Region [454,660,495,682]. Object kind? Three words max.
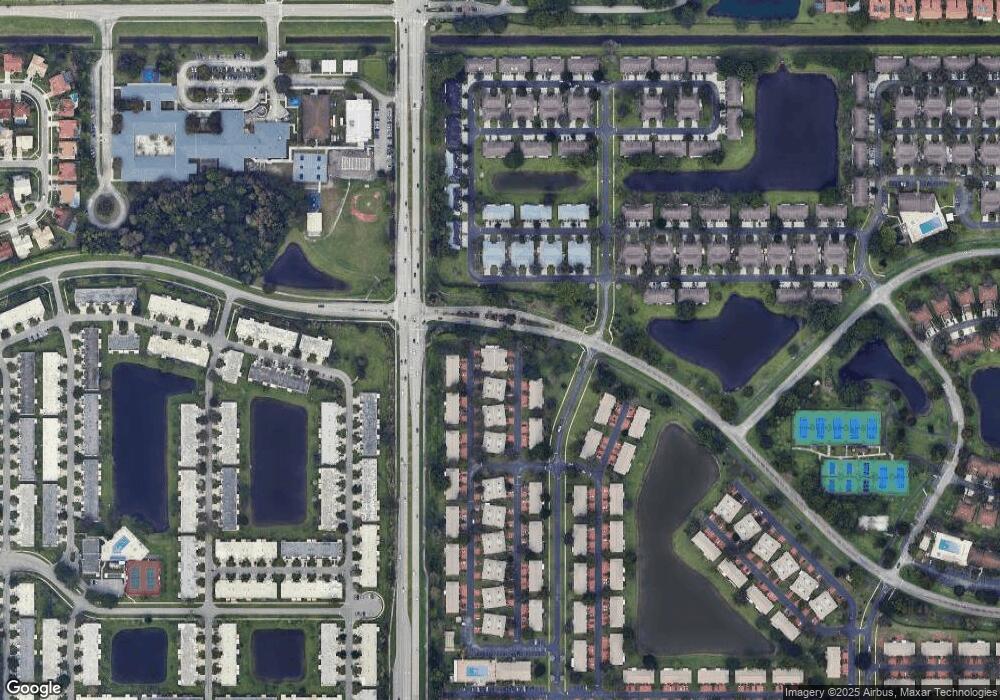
swimming pool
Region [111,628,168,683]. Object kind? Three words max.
pond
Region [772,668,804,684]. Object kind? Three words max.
house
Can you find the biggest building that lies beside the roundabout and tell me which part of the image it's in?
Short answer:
top left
